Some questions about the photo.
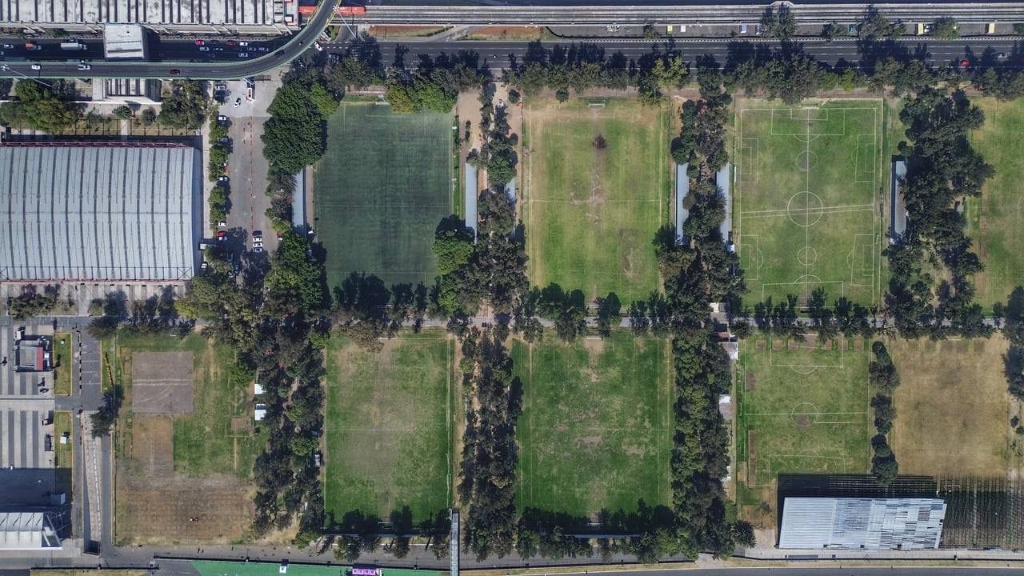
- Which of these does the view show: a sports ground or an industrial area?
sports ground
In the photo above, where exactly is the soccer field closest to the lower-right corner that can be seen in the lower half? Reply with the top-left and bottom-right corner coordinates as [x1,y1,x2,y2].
[888,331,1011,483]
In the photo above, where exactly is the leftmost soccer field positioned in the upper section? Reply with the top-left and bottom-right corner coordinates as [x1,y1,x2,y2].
[314,96,454,291]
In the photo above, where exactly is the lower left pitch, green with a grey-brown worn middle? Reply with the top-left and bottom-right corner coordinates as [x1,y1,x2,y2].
[323,331,458,528]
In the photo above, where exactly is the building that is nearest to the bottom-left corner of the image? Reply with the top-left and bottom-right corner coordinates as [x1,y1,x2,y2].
[0,502,71,550]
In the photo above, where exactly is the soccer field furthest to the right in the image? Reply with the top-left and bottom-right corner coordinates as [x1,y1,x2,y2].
[966,94,1024,314]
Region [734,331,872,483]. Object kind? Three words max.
soccer field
